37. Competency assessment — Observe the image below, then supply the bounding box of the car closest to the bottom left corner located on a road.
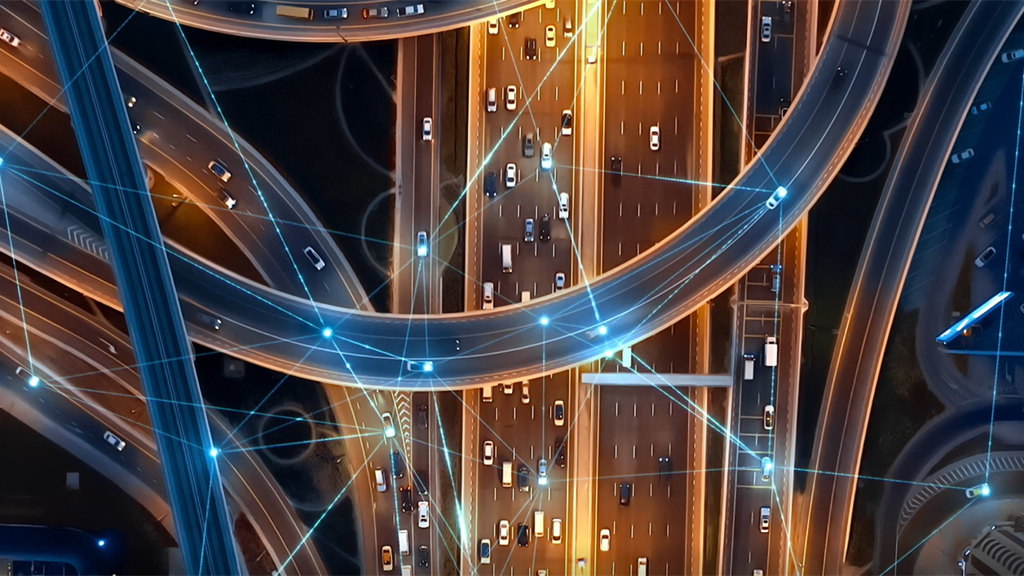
[101,430,128,451]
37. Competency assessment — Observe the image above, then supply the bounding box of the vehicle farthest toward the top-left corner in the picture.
[0,27,23,48]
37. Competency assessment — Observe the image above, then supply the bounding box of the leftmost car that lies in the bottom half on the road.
[14,366,41,386]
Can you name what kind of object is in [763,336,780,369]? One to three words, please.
vehicle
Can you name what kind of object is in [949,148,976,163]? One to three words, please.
car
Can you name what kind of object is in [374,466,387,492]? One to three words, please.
vehicle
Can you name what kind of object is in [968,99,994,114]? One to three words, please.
car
